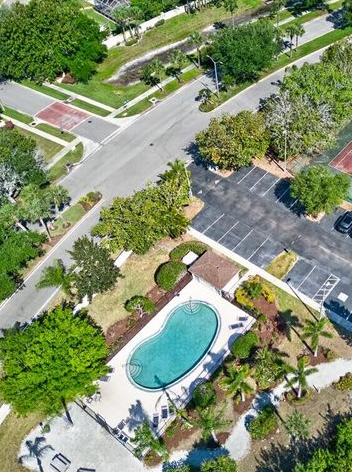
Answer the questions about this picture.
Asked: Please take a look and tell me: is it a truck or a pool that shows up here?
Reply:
pool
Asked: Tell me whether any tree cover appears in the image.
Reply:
Yes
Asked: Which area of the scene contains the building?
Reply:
center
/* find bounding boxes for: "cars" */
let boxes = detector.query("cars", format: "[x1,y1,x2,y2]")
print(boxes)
[336,211,352,234]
